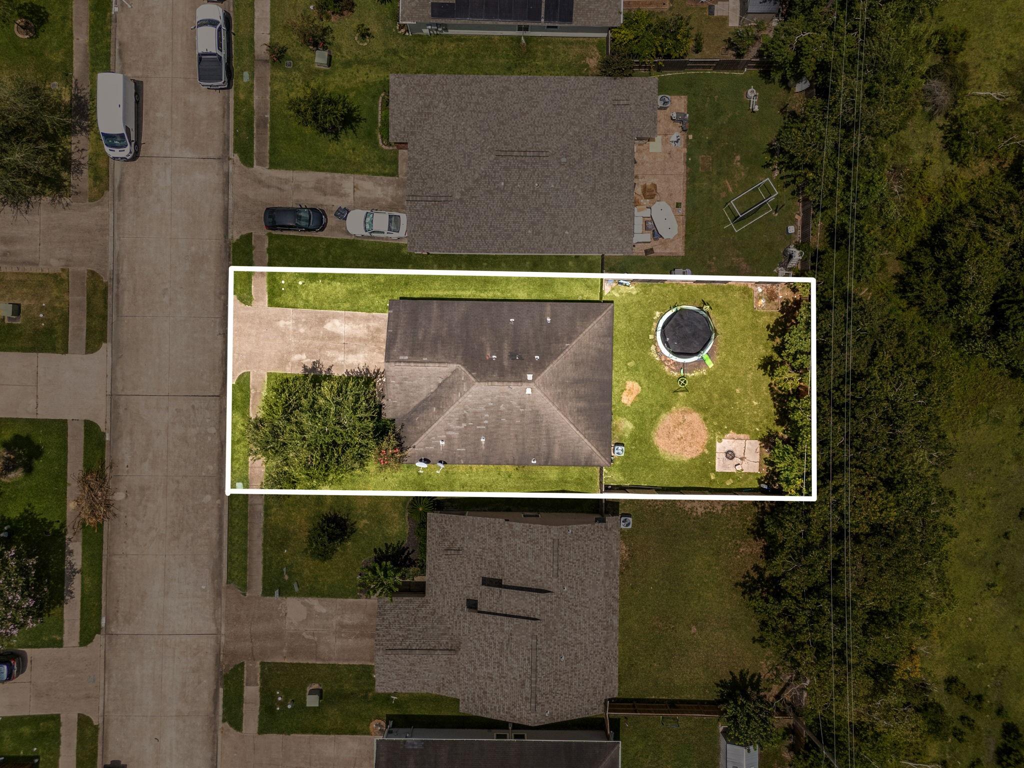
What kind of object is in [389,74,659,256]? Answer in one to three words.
house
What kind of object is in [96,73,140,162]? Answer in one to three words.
van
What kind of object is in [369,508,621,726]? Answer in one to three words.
house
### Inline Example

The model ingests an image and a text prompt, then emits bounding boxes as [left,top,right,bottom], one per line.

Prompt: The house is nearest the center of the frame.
[386,300,615,474]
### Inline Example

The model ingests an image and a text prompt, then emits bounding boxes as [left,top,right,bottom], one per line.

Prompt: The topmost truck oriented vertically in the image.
[191,6,230,92]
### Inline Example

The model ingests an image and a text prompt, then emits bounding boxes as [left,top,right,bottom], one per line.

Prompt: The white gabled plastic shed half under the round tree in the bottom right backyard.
[726,732,762,768]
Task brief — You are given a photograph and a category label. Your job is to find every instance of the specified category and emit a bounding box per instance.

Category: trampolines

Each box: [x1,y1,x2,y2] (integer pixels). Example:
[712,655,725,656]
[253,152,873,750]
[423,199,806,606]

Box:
[656,303,719,383]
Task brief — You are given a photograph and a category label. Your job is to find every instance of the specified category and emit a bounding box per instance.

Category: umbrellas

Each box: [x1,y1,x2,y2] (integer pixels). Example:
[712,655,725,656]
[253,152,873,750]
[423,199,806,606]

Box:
[651,202,677,239]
